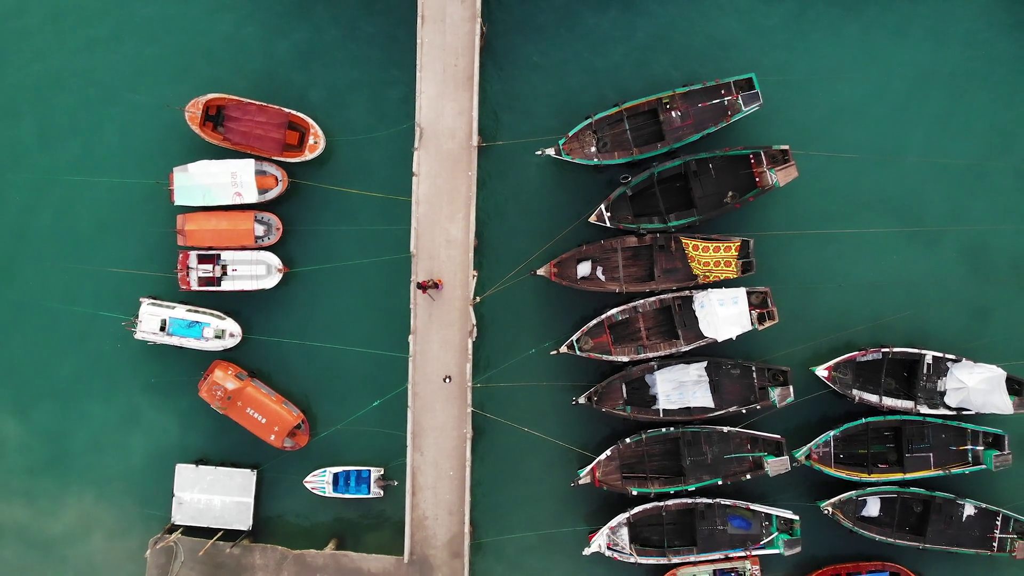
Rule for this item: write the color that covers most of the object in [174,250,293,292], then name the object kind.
white boat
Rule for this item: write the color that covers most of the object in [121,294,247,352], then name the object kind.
white boat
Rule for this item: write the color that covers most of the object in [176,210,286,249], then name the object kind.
orange boat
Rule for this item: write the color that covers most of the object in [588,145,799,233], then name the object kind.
black boat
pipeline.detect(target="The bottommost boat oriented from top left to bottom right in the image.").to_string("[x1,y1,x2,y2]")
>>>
[197,359,312,450]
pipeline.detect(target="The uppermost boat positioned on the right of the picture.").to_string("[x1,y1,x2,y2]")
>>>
[536,73,762,171]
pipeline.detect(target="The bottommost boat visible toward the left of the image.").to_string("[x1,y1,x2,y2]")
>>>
[303,465,398,498]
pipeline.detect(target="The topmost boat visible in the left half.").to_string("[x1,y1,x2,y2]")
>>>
[176,93,328,164]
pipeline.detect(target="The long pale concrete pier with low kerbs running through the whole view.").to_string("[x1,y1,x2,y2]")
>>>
[404,0,485,576]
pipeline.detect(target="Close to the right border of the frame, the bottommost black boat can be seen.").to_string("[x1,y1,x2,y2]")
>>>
[810,480,1024,558]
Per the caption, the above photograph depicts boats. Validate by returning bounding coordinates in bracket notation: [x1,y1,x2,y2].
[582,490,801,566]
[810,480,1024,558]
[799,558,912,576]
[176,210,286,249]
[572,356,794,424]
[176,93,328,164]
[659,556,761,576]
[786,414,1012,483]
[168,159,291,207]
[121,294,247,352]
[174,250,293,292]
[536,73,762,171]
[197,359,312,450]
[571,423,791,496]
[588,145,799,233]
[303,465,398,498]
[806,343,1024,415]
[550,287,779,365]
[531,231,756,293]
